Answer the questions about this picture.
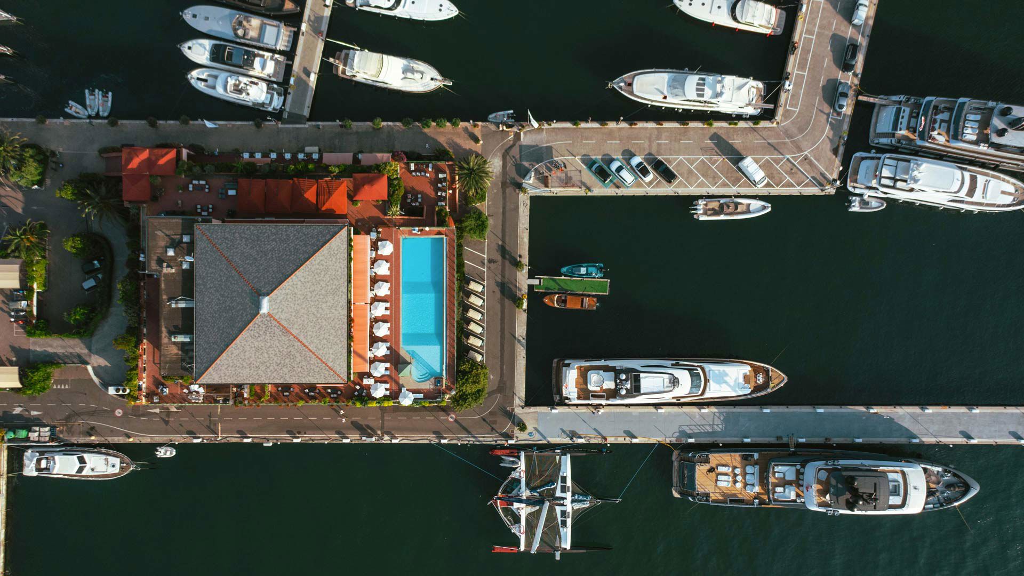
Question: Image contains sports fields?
No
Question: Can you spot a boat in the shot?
Yes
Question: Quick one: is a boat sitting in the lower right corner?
Yes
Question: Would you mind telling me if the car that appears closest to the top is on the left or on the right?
right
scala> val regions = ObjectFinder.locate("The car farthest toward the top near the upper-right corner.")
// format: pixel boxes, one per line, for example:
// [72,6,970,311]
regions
[849,0,869,30]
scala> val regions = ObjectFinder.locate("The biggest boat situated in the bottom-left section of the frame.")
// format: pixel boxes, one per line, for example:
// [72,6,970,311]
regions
[24,448,140,480]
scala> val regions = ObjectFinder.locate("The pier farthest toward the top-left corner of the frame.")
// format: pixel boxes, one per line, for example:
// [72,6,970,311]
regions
[284,0,335,122]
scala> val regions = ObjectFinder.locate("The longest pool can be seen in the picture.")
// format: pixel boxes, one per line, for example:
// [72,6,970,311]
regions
[400,231,446,389]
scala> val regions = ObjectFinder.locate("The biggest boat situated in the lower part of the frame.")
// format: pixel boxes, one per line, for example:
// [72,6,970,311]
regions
[671,447,980,514]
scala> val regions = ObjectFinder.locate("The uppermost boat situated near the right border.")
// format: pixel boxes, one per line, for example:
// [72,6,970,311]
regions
[864,95,1024,169]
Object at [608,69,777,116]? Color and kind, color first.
white boat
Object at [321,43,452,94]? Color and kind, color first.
white boat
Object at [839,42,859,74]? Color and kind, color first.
black car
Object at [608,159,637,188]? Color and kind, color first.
white car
